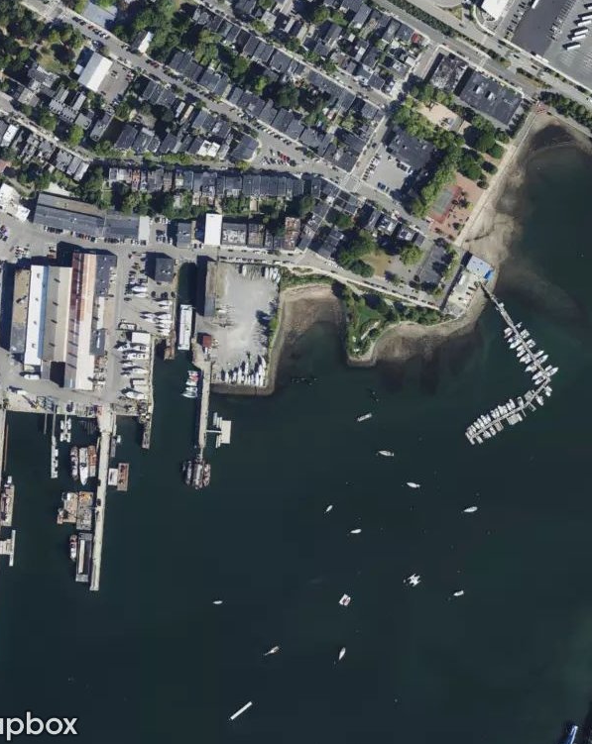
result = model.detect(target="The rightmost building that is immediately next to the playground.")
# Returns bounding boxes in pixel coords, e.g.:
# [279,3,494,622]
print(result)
[458,71,521,128]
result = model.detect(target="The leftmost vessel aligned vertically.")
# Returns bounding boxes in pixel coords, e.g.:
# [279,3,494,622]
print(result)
[0,475,14,525]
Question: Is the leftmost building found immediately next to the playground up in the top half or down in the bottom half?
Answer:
top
